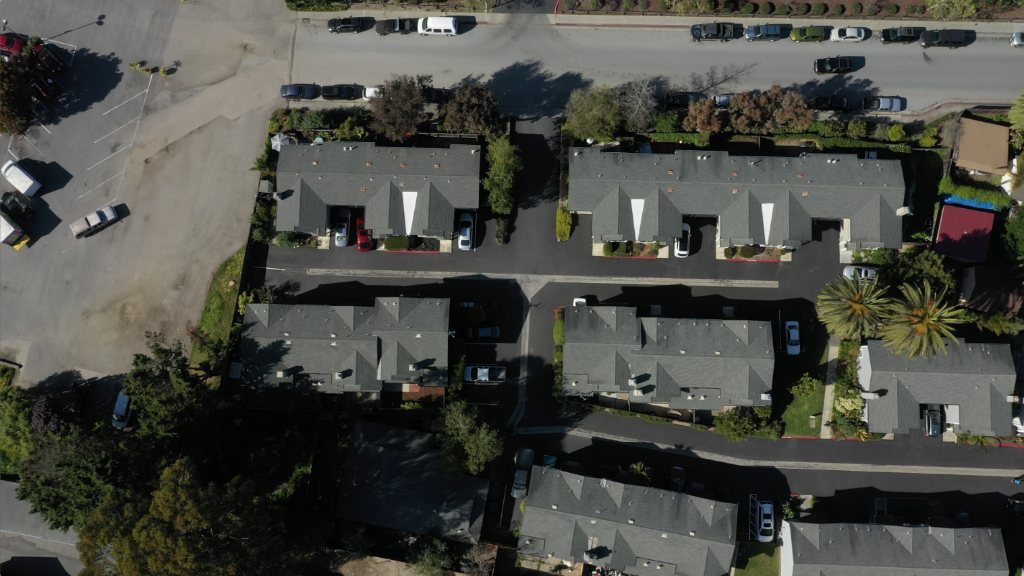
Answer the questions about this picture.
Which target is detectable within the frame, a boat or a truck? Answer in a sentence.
I can see a truck in this picture.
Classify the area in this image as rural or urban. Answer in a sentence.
This place is urban.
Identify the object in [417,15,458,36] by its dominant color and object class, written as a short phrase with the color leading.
white vehicle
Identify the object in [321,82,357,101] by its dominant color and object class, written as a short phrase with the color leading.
black car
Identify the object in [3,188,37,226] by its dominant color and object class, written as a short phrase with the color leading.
black car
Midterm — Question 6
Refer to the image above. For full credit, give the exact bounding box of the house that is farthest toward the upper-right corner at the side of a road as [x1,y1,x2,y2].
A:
[938,116,1010,179]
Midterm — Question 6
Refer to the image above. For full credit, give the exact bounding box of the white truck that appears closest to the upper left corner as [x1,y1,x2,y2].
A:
[0,155,41,195]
